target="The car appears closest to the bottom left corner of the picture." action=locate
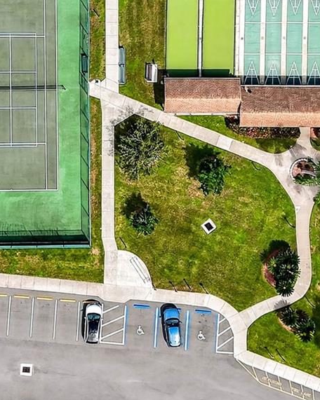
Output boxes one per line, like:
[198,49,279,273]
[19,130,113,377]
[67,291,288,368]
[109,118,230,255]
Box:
[84,302,104,344]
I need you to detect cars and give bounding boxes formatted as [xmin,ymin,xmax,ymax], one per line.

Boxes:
[160,306,180,346]
[84,302,104,344]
